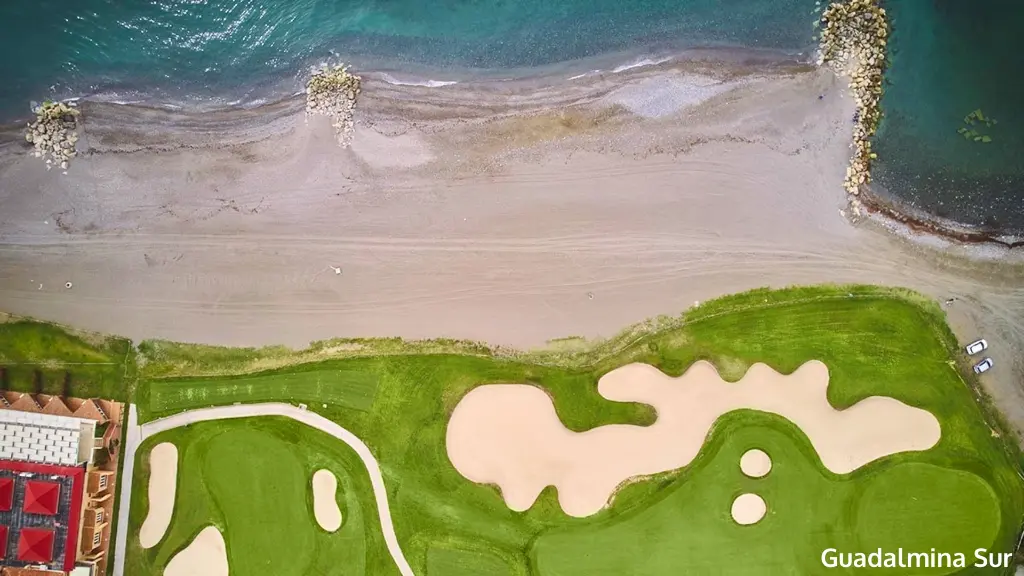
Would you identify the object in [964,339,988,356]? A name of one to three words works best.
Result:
car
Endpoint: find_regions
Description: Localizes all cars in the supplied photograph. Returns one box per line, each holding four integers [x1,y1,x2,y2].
[964,339,988,356]
[972,358,994,375]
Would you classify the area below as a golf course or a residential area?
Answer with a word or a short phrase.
golf course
